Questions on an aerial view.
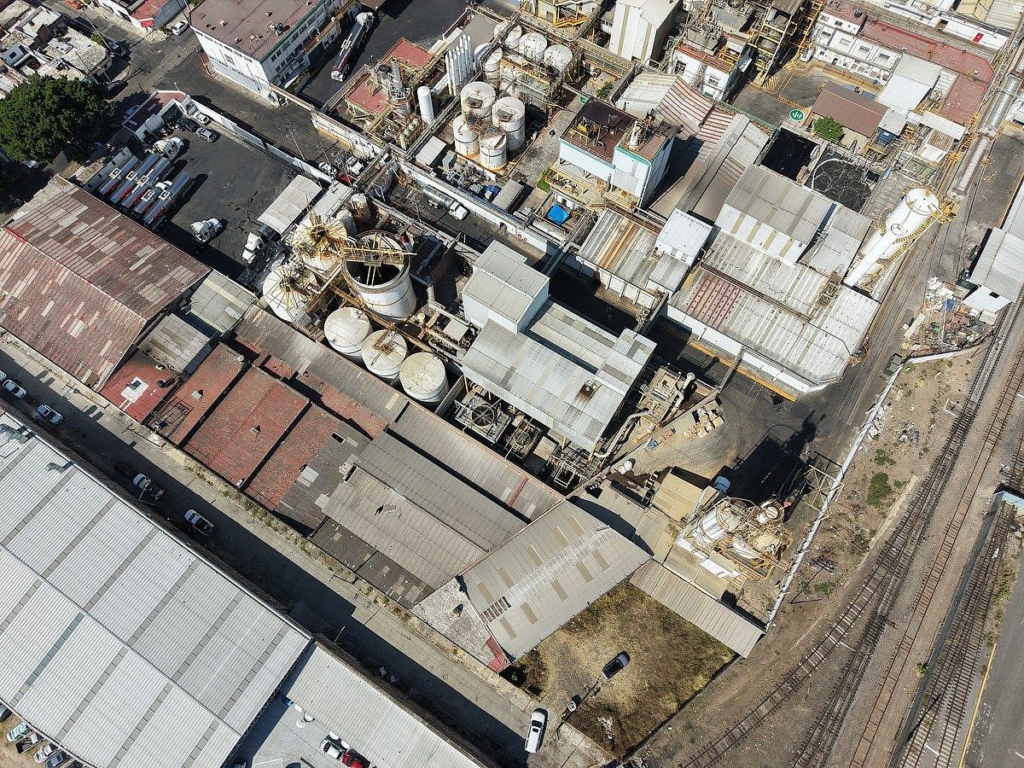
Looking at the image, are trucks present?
Yes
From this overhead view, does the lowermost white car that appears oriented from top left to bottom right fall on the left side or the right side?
left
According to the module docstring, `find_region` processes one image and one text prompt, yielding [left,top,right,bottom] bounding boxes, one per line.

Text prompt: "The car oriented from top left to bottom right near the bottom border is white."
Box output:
[317,734,345,765]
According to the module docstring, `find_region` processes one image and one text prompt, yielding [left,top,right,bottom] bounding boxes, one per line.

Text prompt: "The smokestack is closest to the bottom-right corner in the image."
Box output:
[672,377,692,417]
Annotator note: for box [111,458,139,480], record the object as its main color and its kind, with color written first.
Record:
black car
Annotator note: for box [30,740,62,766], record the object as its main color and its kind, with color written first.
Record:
white car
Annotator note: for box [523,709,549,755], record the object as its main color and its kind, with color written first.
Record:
white car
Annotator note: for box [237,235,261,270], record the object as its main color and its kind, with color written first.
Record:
white truck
